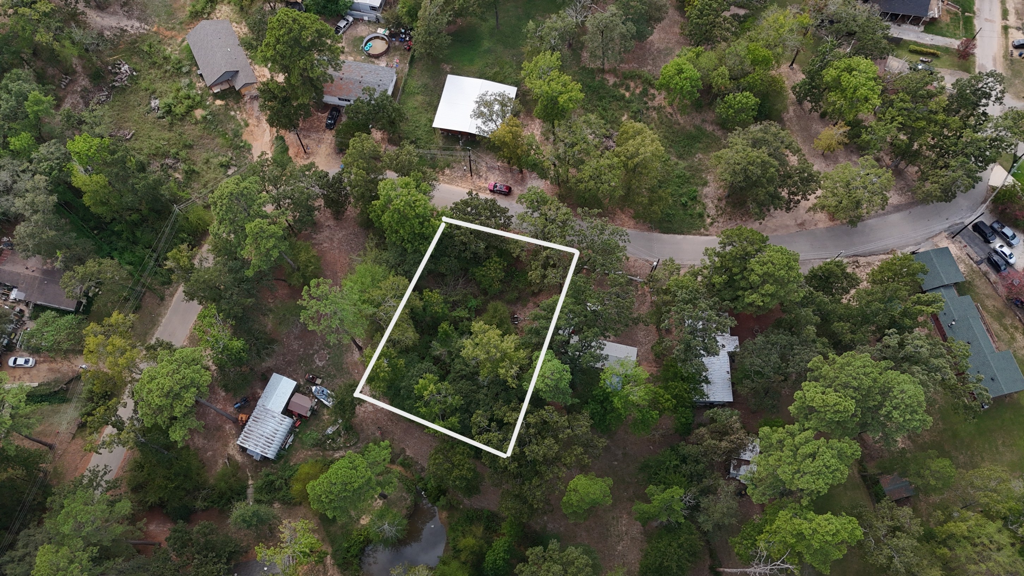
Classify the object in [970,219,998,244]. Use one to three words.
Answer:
car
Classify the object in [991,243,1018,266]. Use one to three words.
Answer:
car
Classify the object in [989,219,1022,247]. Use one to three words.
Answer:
truck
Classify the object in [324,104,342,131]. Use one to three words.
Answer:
vehicle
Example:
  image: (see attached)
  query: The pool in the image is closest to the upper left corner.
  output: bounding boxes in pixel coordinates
[362,34,391,60]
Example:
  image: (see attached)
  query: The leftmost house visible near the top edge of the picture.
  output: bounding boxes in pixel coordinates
[186,20,258,102]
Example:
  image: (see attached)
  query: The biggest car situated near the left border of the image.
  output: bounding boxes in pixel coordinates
[7,355,39,368]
